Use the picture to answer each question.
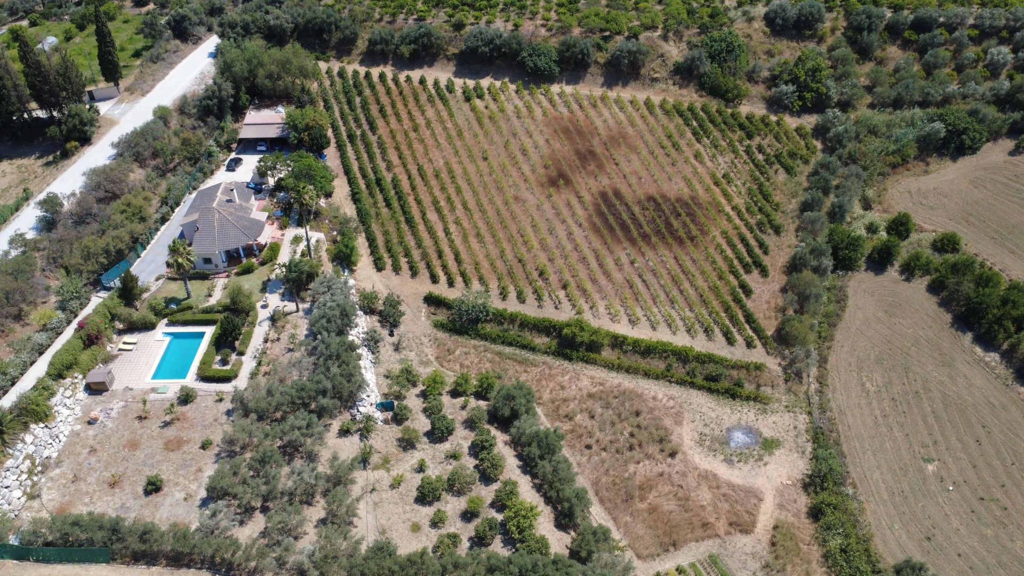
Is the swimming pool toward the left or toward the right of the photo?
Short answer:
left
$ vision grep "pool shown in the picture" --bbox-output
[146,328,212,383]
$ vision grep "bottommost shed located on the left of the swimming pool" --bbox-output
[84,368,118,393]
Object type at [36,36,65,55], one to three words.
greenhouse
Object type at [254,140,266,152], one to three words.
vehicle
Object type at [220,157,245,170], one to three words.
vehicle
